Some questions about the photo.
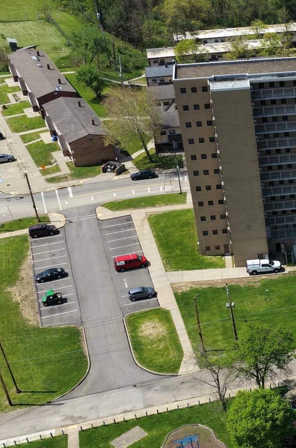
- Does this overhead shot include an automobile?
Yes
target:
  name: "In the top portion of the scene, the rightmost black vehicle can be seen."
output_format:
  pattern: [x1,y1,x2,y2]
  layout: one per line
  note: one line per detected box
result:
[129,168,156,181]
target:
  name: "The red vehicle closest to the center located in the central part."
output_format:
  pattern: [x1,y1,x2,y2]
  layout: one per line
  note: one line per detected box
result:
[110,252,150,271]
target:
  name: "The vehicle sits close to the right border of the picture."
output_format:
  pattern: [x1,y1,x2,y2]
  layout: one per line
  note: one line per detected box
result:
[243,258,285,276]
